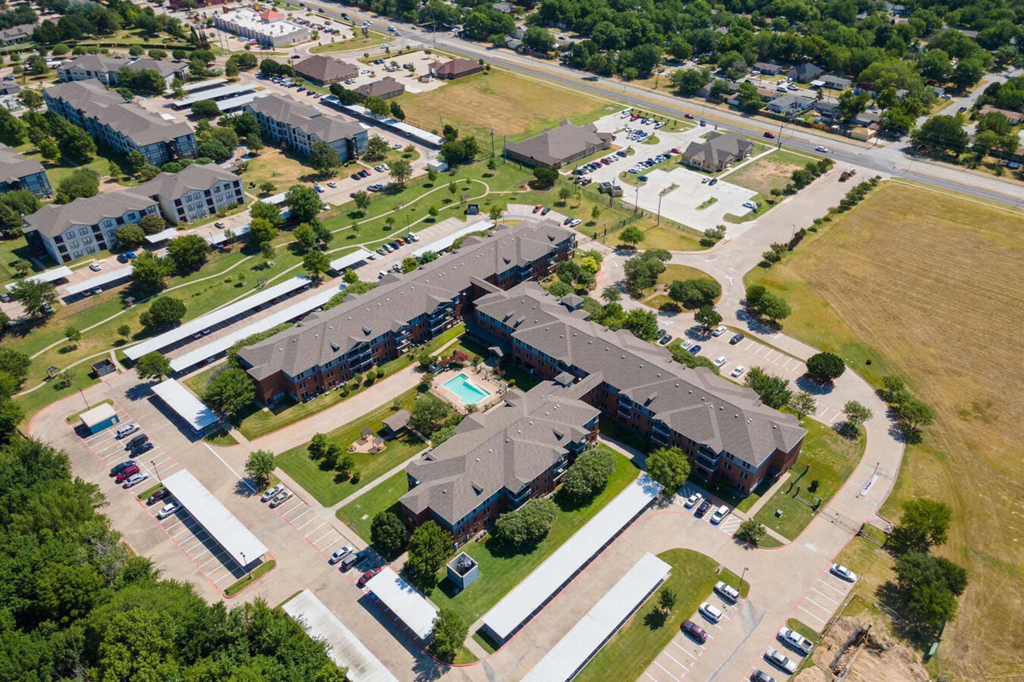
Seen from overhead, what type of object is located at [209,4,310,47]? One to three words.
building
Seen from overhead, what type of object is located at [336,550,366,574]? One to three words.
truck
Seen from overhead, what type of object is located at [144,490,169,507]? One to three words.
car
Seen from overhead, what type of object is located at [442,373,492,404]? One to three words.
swimming pool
